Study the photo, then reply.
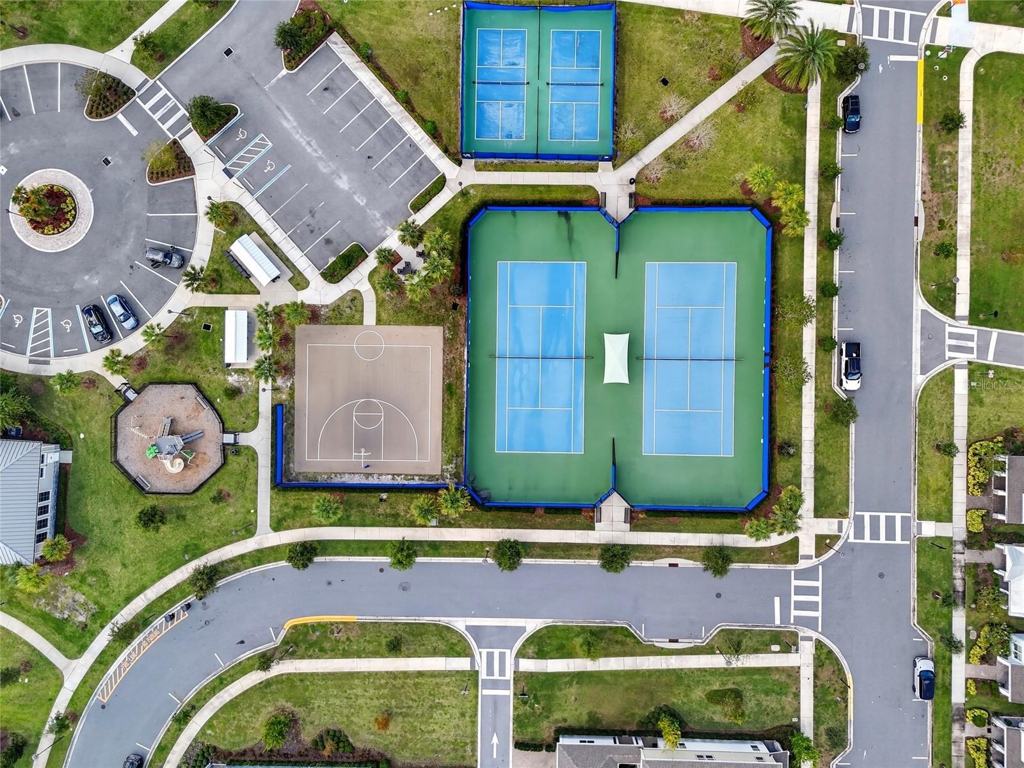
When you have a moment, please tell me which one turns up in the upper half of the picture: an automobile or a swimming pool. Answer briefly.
automobile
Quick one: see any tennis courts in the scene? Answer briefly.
Yes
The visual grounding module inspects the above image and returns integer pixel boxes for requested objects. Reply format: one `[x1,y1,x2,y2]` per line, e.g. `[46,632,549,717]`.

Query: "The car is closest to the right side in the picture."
[913,656,936,699]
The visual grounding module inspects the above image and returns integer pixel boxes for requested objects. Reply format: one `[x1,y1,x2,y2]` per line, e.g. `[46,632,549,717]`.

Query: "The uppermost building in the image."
[230,234,284,287]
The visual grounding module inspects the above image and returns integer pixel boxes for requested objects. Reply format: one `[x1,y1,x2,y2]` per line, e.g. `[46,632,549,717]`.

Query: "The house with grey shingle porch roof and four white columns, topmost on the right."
[993,454,1024,526]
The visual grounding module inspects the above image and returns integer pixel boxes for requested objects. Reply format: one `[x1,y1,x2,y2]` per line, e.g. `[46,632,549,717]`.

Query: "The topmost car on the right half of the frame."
[840,94,863,135]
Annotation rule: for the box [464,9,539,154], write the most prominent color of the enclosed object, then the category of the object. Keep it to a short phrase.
blue sports court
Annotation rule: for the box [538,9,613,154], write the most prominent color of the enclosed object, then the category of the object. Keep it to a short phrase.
blue sports court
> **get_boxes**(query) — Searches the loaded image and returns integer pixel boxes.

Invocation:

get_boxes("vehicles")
[913,656,936,699]
[145,248,187,272]
[123,750,147,768]
[81,303,114,343]
[107,293,139,330]
[840,94,863,135]
[841,342,863,390]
